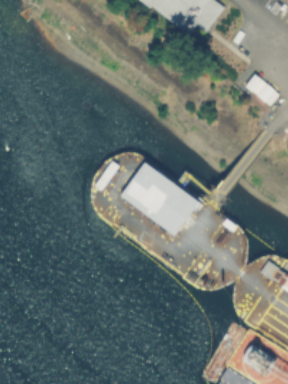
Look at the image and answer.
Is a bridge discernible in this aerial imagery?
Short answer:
Yes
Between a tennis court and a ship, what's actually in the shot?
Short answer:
ship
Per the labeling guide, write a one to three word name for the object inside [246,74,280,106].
shed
